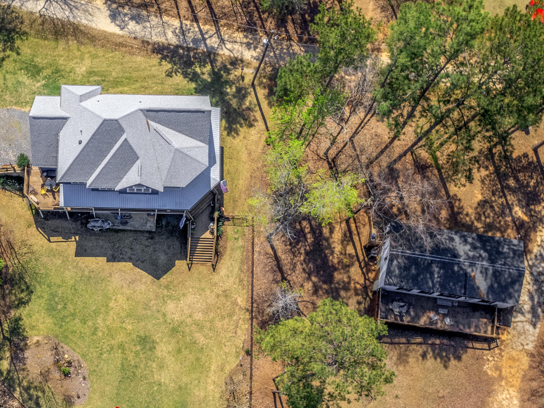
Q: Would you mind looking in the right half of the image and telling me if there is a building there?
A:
Yes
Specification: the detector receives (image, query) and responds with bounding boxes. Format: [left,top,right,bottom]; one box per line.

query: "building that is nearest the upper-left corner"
[0,83,222,265]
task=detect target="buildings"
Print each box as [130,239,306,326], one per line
[0,83,222,265]
[362,222,526,344]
